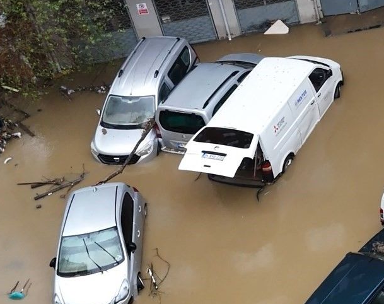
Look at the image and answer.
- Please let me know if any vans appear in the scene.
Yes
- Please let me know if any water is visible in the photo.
Yes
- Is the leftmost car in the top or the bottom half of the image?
bottom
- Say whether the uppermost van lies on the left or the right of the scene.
right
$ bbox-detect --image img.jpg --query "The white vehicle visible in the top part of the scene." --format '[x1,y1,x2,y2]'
[183,58,345,185]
